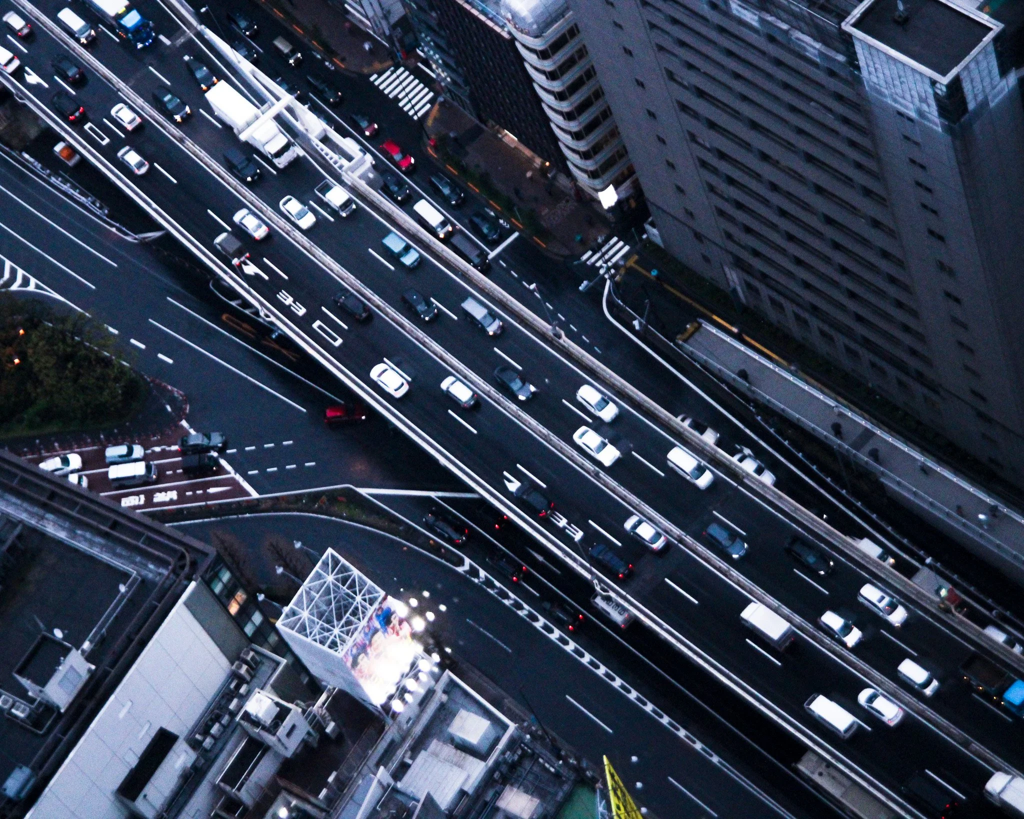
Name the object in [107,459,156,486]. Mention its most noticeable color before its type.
white vehicle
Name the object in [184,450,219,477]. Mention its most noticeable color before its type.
black truck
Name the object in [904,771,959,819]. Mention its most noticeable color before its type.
black car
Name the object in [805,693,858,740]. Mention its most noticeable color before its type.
white van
